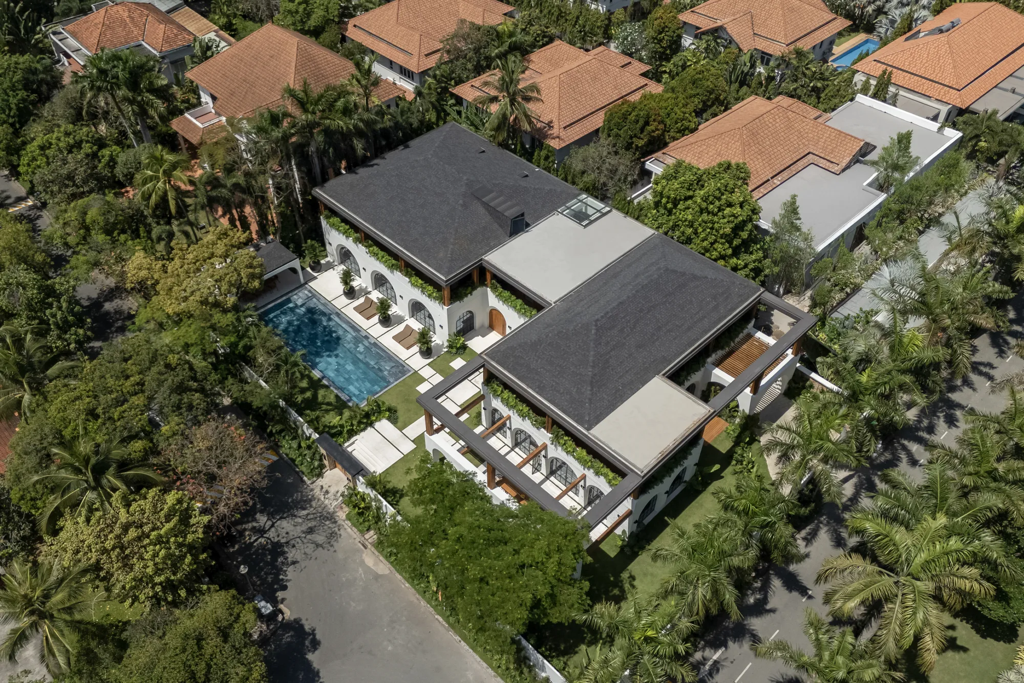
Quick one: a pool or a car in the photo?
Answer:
pool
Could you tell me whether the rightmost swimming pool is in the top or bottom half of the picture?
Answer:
top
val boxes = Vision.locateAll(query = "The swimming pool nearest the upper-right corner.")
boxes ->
[827,32,881,74]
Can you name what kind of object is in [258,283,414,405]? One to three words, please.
swimming pool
